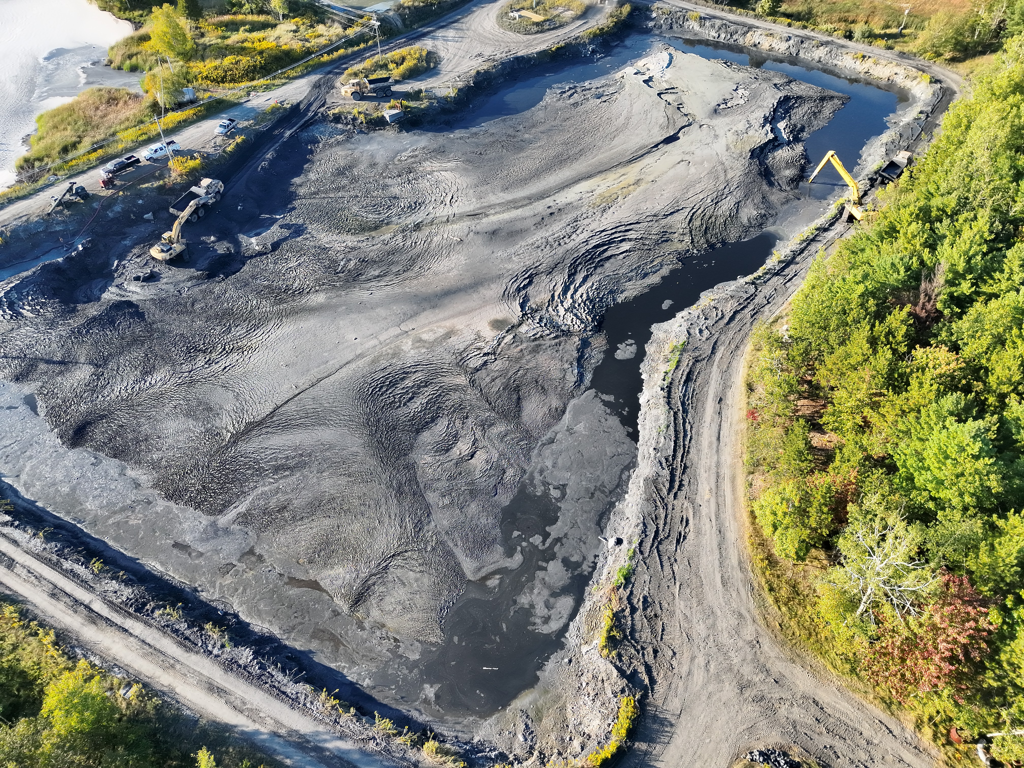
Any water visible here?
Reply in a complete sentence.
Yes, there is water in the image.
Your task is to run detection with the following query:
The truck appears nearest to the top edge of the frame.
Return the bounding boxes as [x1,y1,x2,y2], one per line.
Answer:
[342,74,398,102]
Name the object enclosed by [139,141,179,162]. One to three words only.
truck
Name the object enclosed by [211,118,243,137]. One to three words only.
vehicle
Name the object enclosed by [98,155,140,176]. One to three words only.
truck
